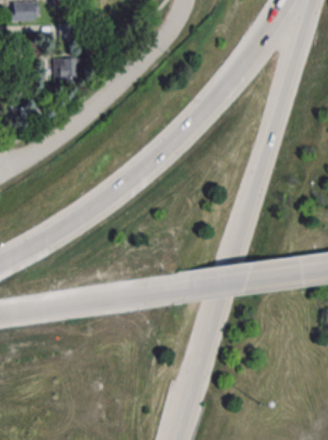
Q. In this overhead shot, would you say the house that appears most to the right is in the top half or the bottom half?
top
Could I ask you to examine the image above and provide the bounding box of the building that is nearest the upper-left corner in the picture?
[13,2,40,22]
